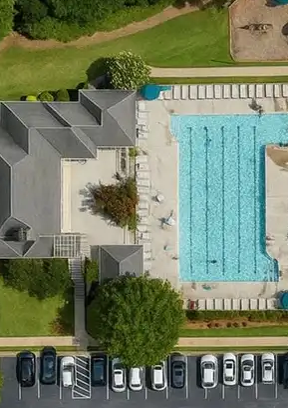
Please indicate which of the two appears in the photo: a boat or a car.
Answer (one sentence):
The image shows a car.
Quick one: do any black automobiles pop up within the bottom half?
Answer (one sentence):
Yes, there is a black automobile within the bottom half.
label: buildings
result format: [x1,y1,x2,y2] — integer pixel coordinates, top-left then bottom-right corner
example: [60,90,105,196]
[98,245,146,293]
[0,89,137,258]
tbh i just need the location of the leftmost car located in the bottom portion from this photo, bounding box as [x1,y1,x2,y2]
[16,351,37,389]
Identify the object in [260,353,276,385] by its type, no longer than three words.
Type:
car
